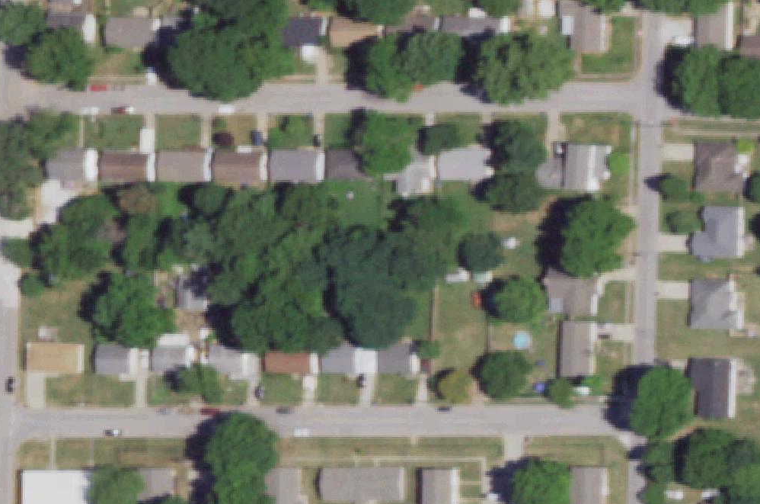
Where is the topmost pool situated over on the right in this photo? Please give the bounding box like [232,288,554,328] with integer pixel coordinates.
[511,331,532,349]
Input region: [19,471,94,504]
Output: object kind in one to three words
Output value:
building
